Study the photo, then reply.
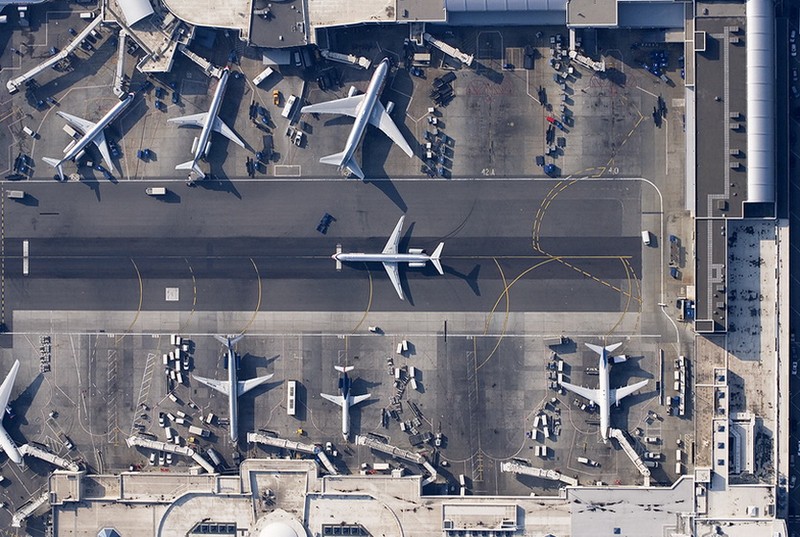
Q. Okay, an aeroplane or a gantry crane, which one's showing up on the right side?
aeroplane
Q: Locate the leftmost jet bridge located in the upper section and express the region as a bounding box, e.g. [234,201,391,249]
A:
[5,11,104,95]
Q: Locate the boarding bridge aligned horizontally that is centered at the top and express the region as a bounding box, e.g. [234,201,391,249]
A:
[320,48,374,70]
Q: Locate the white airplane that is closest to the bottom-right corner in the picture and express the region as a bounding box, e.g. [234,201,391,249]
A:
[562,344,649,443]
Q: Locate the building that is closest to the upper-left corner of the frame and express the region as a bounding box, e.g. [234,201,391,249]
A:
[103,0,196,73]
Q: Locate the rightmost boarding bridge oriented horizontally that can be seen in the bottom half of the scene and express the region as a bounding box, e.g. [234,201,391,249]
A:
[497,460,578,486]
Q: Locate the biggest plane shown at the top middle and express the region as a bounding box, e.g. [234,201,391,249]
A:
[302,58,413,180]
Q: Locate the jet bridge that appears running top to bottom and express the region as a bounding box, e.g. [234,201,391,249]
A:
[112,28,130,98]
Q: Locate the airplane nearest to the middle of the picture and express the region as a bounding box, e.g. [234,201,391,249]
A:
[332,217,445,299]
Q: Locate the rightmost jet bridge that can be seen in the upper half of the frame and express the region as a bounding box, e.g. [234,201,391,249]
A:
[567,27,610,72]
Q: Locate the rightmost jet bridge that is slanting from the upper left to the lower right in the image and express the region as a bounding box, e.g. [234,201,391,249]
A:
[607,427,651,487]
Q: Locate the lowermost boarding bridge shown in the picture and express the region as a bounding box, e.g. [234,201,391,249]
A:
[9,491,51,532]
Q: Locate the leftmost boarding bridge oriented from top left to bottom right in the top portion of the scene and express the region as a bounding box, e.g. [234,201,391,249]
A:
[177,42,228,82]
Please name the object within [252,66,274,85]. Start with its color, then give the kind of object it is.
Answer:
white vehicle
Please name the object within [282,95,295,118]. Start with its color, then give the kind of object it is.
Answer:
white vehicle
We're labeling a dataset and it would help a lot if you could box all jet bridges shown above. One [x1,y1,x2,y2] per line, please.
[5,11,104,95]
[112,28,130,98]
[177,42,228,82]
[243,430,337,475]
[567,27,610,72]
[15,443,80,472]
[9,491,51,532]
[497,460,578,486]
[123,434,214,474]
[320,48,374,70]
[354,434,440,487]
[423,31,477,71]
[607,427,651,487]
